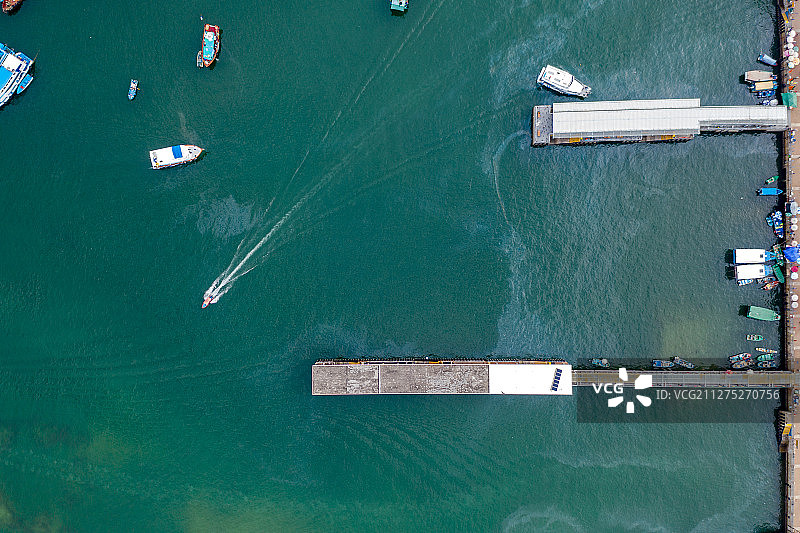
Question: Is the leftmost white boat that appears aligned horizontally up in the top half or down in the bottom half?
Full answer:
The leftmost white boat that appears aligned horizontally is in the top half of the image.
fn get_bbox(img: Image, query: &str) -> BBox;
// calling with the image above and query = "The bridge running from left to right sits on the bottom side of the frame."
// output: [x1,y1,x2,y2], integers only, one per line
[572,370,787,388]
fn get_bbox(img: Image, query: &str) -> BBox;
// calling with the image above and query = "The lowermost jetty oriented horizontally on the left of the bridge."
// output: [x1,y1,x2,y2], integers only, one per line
[312,357,572,395]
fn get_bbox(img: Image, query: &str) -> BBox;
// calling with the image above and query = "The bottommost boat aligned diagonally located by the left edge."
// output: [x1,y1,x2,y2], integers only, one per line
[17,76,34,95]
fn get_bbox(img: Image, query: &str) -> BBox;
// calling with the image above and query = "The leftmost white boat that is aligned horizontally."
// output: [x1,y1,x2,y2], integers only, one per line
[148,142,206,169]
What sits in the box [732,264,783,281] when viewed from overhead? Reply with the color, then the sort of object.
white vessel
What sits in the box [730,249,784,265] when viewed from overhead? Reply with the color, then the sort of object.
white vessel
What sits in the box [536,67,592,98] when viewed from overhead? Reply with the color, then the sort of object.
white boat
